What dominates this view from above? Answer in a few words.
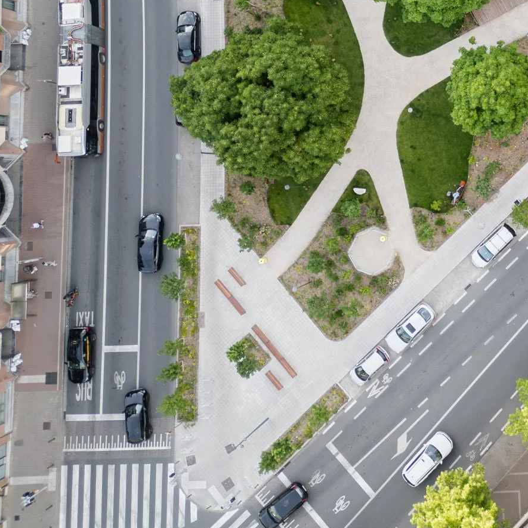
paved ground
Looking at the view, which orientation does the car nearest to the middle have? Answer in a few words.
up and down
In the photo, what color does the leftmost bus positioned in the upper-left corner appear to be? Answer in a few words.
white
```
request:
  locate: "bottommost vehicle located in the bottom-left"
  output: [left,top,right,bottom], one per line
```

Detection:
[121,386,155,444]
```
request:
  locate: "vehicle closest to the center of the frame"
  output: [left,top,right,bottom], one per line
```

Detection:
[138,213,167,272]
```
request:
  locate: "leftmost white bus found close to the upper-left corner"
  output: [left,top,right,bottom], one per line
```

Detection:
[55,0,105,163]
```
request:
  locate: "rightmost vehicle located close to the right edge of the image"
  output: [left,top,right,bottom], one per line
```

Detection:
[470,220,520,269]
